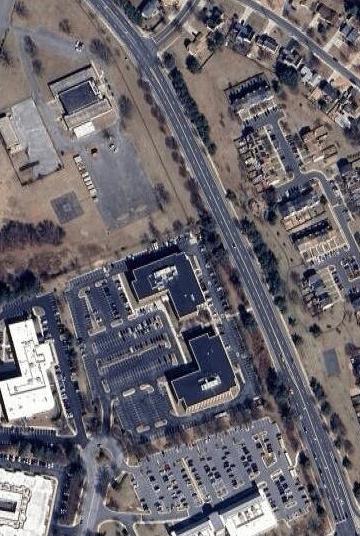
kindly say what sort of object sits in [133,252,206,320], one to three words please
building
